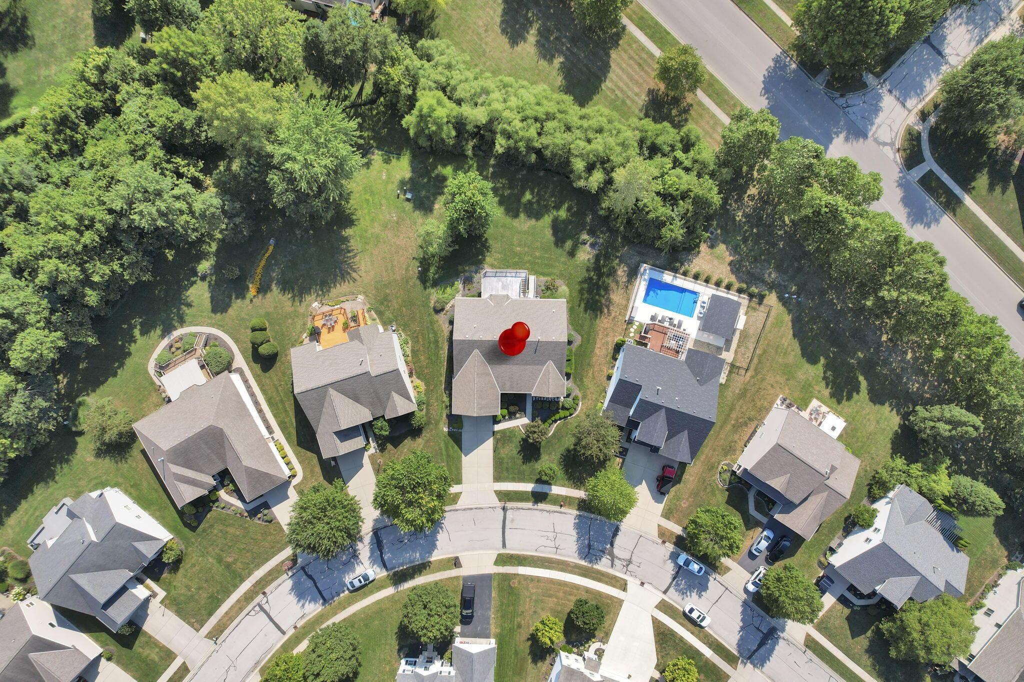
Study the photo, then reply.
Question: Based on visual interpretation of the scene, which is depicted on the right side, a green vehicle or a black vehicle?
black vehicle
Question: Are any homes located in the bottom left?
Yes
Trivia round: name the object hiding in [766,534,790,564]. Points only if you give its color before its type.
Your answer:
black car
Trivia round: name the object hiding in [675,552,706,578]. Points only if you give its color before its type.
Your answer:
blue car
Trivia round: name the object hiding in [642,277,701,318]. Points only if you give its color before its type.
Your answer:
blue swimming pool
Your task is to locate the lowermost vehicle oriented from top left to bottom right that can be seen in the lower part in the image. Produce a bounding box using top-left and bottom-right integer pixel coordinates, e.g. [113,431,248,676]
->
[681,602,710,628]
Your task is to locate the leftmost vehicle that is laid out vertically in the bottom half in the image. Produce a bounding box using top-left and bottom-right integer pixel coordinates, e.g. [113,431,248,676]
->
[460,583,475,622]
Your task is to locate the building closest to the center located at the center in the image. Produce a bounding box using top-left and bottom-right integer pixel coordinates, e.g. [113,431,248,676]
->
[452,294,568,417]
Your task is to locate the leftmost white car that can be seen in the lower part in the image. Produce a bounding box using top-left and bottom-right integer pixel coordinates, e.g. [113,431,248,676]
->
[345,568,376,592]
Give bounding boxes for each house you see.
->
[603,343,725,464]
[291,324,418,458]
[551,653,625,682]
[29,489,175,632]
[737,409,861,541]
[950,555,1024,682]
[827,488,973,616]
[452,294,568,417]
[396,638,496,682]
[0,596,102,682]
[132,370,292,508]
